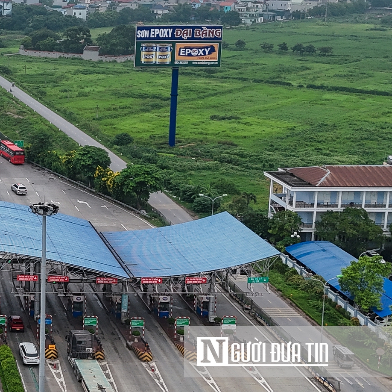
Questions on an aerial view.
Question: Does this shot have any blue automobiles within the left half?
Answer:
No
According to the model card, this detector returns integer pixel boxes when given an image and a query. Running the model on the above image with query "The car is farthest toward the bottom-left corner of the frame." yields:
[16,340,37,362]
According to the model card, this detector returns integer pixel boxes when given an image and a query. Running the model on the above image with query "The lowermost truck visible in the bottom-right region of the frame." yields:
[315,331,355,362]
